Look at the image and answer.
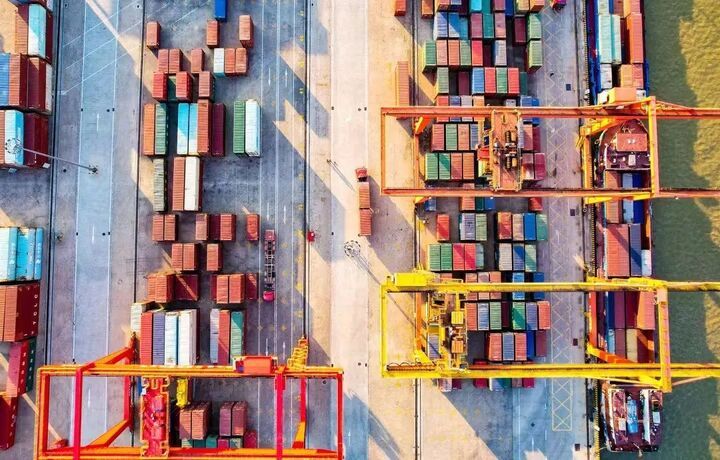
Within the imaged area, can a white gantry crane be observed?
No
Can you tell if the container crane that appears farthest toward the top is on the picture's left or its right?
right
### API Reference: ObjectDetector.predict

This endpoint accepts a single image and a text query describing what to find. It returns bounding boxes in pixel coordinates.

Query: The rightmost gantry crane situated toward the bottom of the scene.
[380,269,720,392]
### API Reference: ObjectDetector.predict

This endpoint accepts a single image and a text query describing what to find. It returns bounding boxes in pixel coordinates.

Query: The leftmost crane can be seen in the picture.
[23,333,343,460]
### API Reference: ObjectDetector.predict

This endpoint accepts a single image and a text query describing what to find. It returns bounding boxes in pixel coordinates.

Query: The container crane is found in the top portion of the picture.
[381,82,720,215]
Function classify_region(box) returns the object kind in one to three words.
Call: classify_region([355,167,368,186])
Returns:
vehicle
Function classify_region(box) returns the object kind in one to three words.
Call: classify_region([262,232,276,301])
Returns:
vehicle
